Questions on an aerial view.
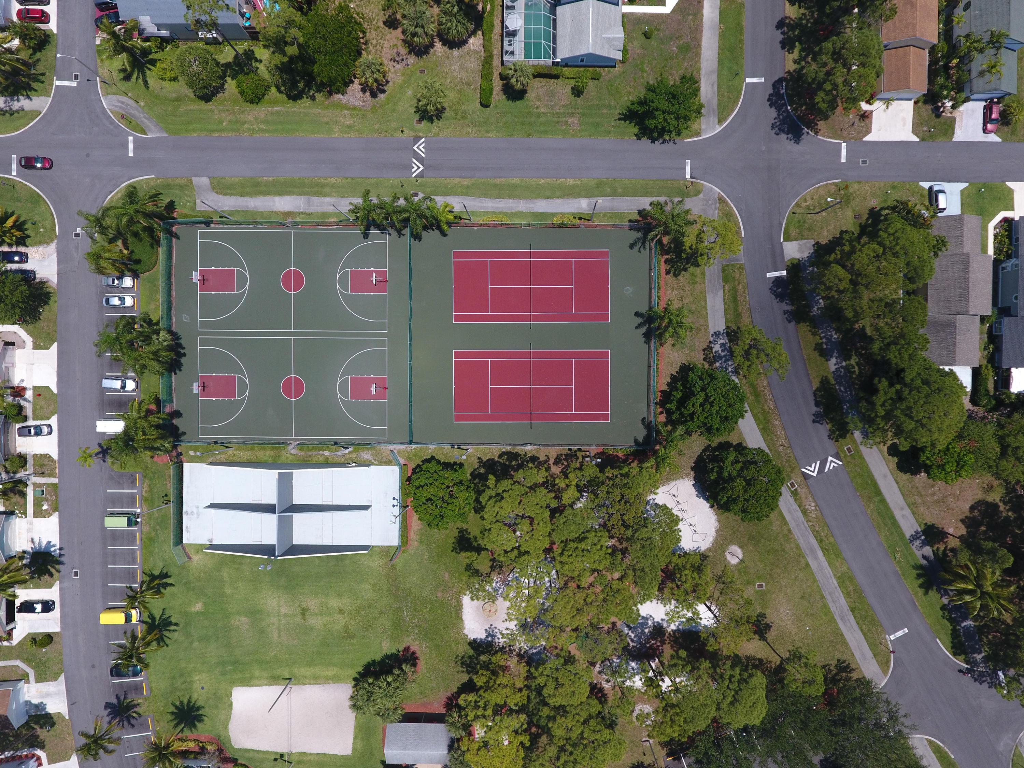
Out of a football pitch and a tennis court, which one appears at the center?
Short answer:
tennis court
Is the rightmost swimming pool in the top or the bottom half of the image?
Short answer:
top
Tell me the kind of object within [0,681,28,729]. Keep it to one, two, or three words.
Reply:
house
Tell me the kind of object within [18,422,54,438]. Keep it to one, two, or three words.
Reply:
car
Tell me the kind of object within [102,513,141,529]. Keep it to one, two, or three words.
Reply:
vehicle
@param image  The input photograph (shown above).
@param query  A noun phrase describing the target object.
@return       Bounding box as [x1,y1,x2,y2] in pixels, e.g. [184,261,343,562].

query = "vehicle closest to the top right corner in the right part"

[981,100,999,135]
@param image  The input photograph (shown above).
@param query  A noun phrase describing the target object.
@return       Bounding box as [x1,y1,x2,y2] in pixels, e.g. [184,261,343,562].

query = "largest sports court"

[174,227,649,444]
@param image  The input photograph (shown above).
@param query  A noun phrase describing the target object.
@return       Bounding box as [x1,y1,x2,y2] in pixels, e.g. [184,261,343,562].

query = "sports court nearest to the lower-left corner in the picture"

[229,684,355,755]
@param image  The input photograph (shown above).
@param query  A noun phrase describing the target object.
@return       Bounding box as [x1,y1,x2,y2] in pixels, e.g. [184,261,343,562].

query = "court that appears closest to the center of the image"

[453,349,610,423]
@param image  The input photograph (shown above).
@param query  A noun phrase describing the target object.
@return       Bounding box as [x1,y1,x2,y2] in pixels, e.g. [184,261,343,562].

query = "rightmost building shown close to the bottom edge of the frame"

[384,714,449,764]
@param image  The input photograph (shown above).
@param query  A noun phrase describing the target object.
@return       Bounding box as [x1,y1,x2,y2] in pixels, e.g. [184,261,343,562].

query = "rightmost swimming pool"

[525,0,551,59]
